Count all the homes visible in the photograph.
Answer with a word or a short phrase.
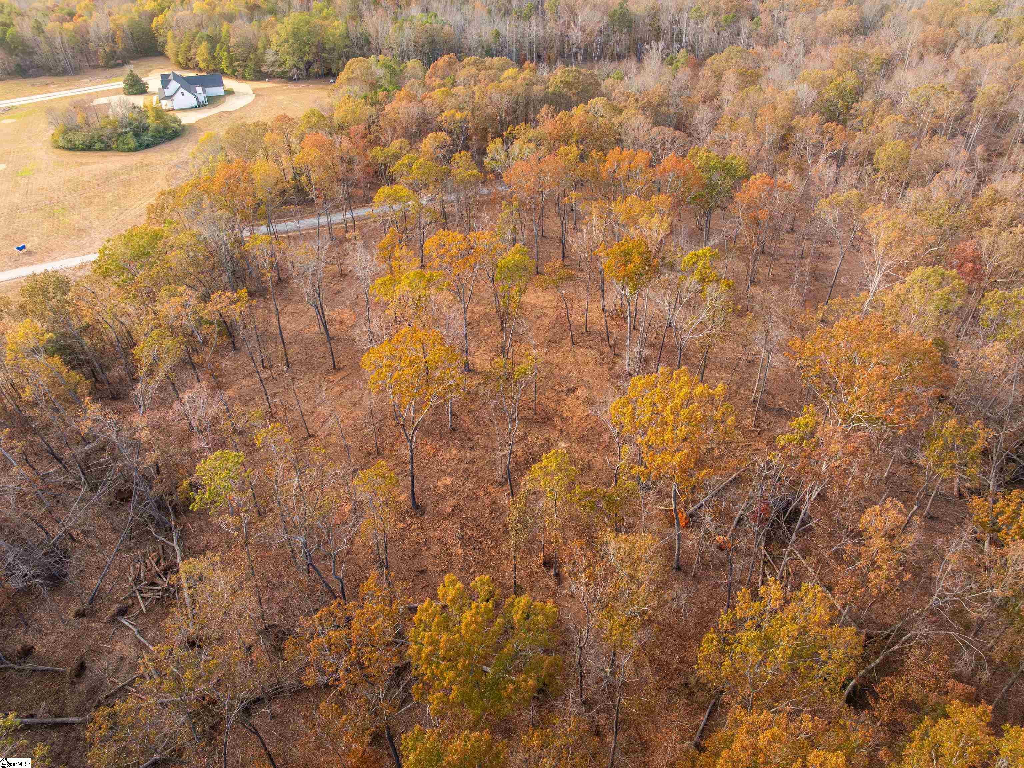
1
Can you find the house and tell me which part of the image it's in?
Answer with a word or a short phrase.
top left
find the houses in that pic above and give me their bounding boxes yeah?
[148,71,224,110]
